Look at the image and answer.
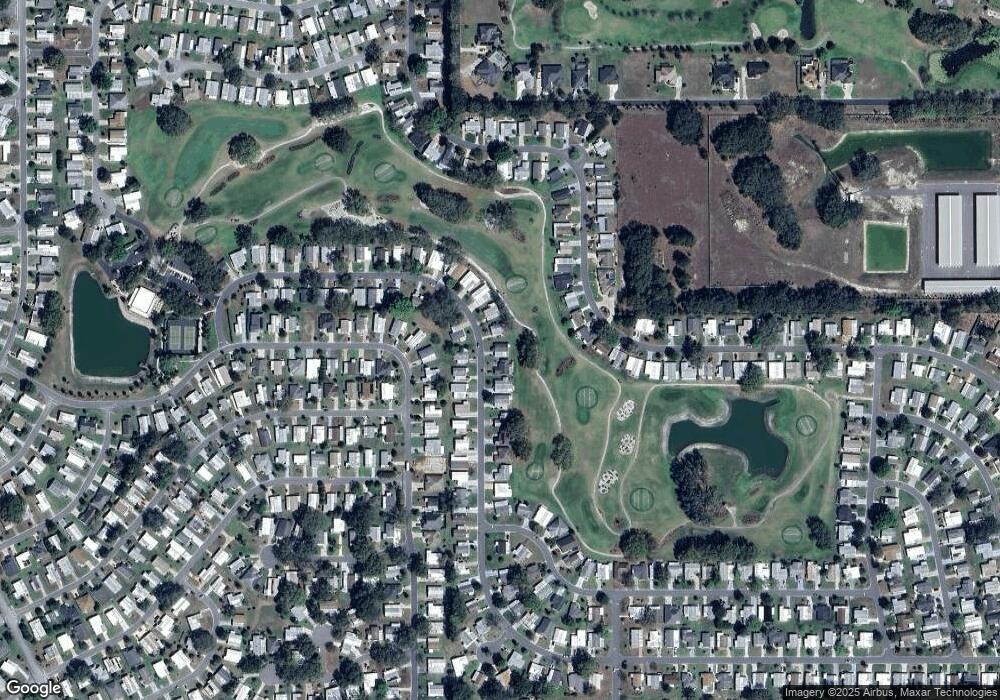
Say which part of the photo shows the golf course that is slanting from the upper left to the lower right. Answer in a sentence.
The golf course that is slanting from the upper left to the lower right sits in the center section of the image.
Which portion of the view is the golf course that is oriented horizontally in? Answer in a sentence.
You can find the golf course that is oriented horizontally in the top right area of the picture.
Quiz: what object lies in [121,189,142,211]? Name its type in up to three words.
house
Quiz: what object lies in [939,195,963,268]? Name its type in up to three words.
building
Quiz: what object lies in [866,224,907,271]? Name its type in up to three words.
pond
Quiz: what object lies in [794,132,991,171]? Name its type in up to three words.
pond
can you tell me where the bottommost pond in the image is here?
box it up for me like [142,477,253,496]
[668,398,787,477]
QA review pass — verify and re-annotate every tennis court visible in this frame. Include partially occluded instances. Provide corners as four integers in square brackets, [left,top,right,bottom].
[185,325,195,350]
[172,325,183,350]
